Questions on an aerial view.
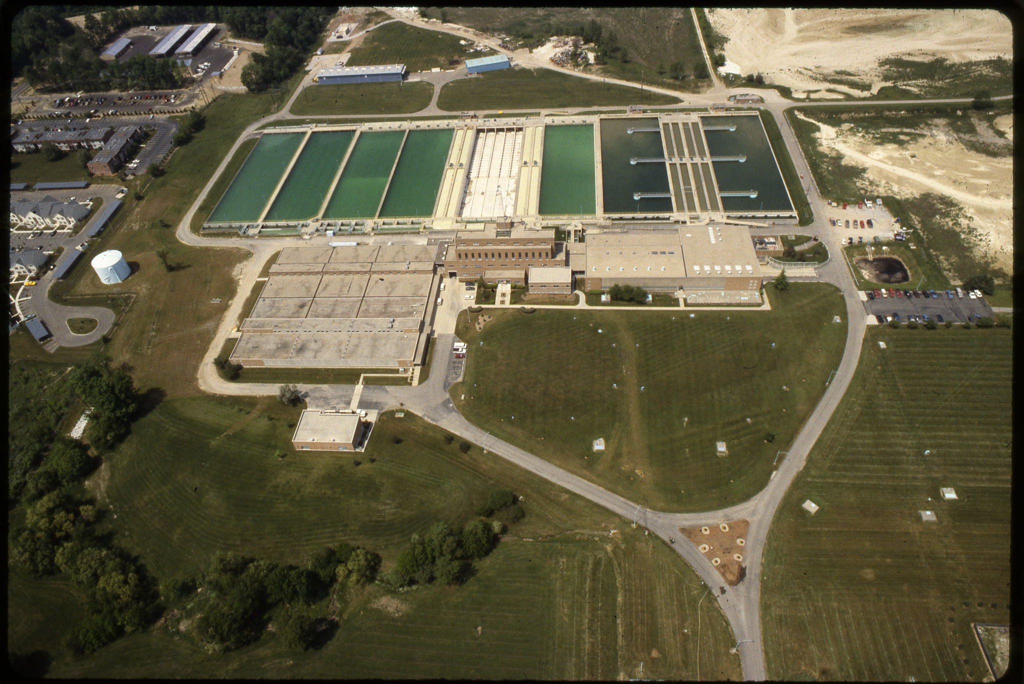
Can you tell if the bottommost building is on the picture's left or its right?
left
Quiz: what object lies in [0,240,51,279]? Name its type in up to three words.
house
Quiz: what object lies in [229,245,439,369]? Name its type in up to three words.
building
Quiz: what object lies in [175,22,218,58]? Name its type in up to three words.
shed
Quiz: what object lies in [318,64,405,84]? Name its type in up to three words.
shed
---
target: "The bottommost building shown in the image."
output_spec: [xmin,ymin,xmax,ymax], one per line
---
[292,409,364,452]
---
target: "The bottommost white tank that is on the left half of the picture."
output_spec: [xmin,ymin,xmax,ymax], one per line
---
[94,248,135,286]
